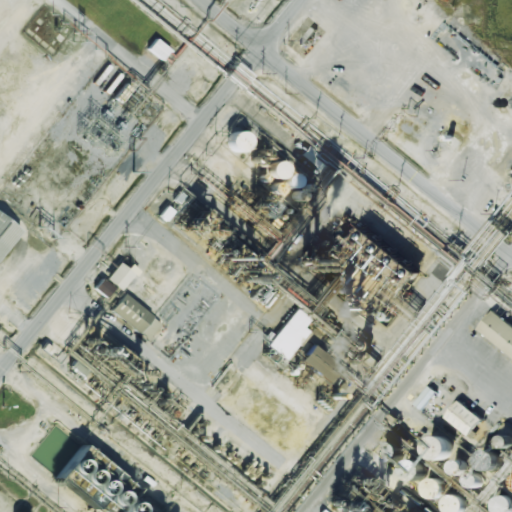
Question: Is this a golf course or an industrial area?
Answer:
industrial area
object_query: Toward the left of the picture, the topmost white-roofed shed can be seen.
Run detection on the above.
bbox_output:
[146,36,176,62]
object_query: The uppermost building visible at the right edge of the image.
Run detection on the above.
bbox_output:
[468,308,512,364]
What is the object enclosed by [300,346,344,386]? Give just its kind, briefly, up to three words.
building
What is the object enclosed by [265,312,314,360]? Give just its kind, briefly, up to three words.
building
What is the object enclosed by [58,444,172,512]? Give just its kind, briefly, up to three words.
cooling tower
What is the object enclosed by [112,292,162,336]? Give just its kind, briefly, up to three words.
shed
